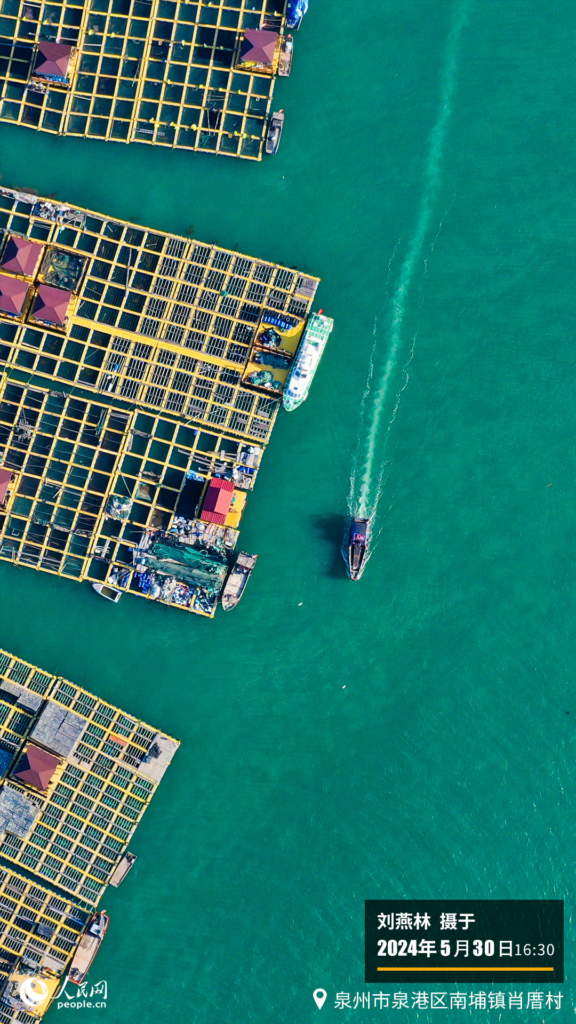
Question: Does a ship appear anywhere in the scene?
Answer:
Yes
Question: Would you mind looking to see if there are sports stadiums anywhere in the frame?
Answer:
No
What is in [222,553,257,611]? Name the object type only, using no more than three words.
boat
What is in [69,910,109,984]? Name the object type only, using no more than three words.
boat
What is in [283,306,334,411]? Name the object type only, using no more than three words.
ship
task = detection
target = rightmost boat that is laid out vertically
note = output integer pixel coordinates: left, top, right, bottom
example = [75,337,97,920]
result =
[349,517,369,581]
